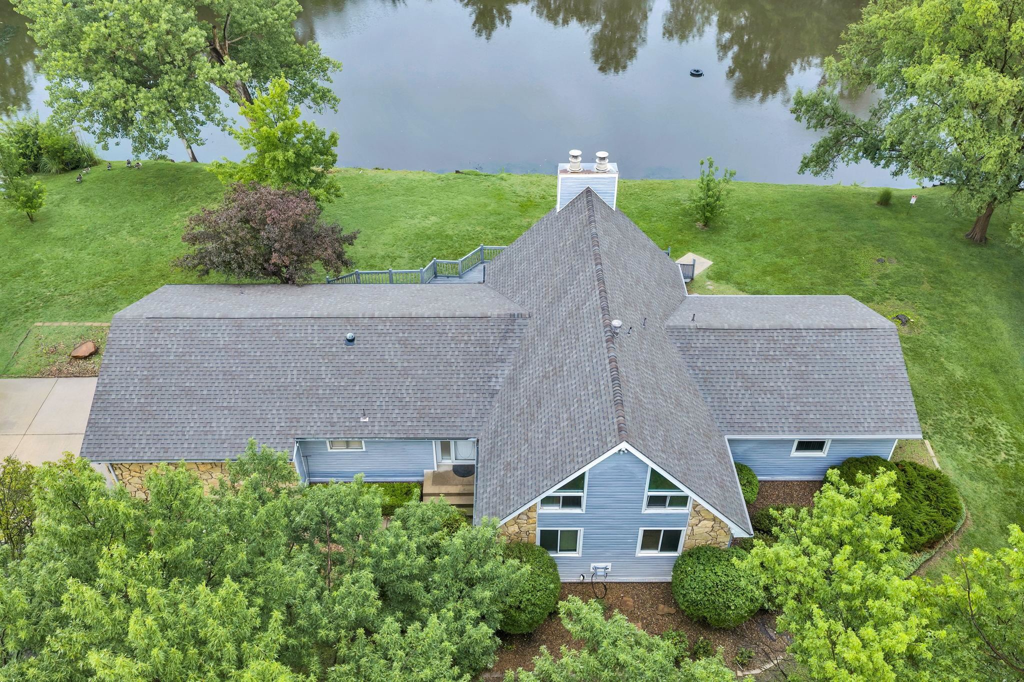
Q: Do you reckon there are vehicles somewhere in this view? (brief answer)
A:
No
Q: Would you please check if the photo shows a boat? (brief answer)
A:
No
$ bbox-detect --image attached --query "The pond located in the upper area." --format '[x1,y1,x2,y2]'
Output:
[0,0,1024,191]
